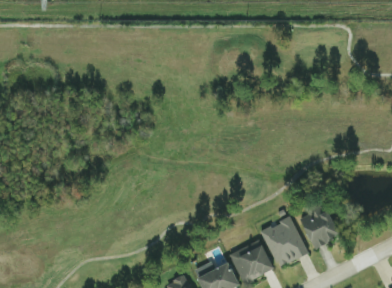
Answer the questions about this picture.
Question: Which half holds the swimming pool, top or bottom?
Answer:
bottom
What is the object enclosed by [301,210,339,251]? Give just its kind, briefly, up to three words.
house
